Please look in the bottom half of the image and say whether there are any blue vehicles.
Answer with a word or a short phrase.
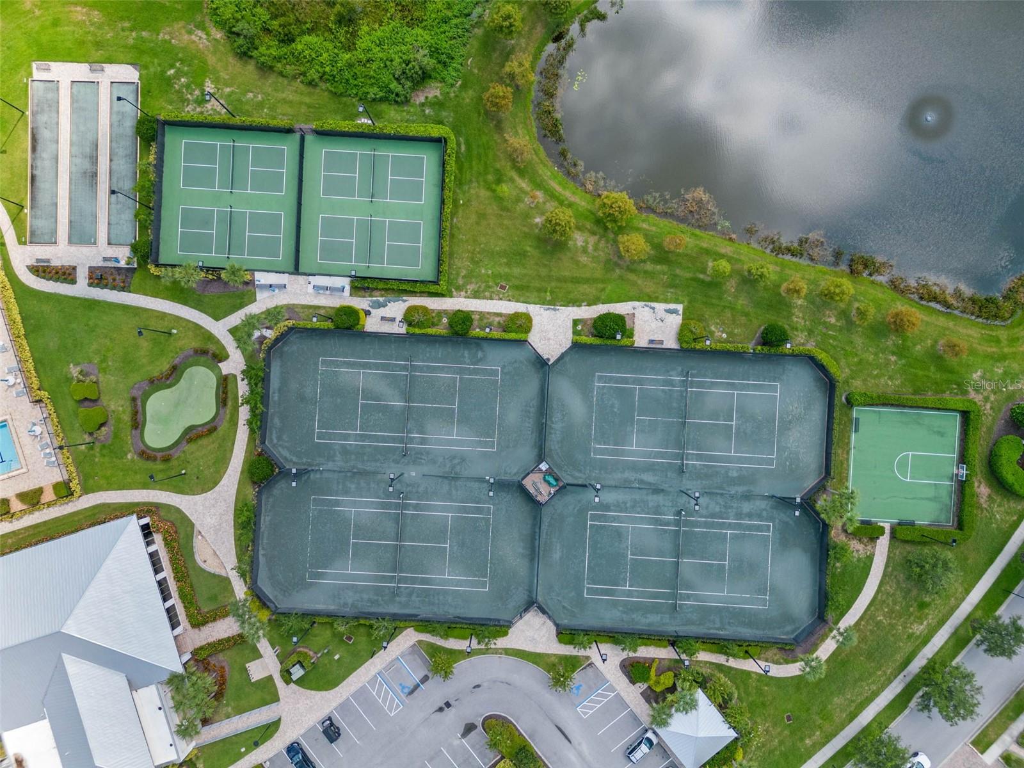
Yes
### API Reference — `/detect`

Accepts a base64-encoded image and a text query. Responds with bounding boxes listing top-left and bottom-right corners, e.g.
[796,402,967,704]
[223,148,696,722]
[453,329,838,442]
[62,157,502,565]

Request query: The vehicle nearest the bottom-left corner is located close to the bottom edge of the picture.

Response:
[287,743,317,768]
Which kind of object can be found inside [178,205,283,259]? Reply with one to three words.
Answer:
sports court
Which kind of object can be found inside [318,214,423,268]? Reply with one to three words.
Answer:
sports court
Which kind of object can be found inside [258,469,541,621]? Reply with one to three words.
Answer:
tennis court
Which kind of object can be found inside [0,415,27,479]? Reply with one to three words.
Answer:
swimming pool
